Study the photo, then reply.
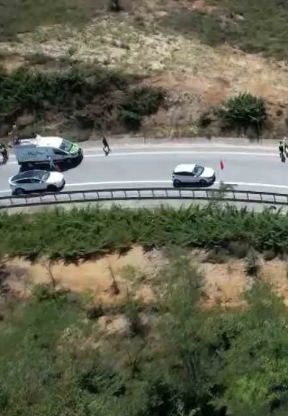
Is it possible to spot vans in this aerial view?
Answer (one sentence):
Yes, this view includes a van.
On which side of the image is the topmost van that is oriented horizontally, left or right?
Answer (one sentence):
The topmost van that is oriented horizontally appears in the left half of the scene.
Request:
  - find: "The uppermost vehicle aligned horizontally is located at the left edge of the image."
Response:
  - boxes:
[10,136,86,170]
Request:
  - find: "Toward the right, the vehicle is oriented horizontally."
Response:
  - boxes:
[168,163,218,187]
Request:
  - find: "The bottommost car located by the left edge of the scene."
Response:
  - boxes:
[7,170,69,196]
